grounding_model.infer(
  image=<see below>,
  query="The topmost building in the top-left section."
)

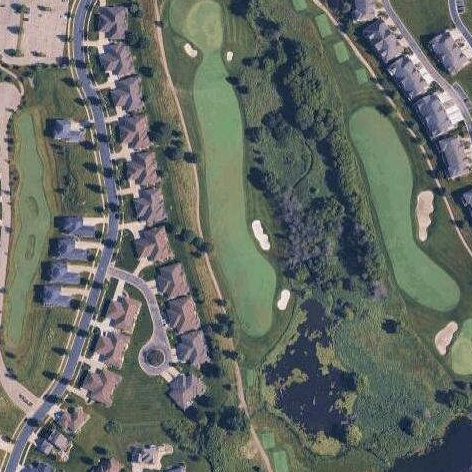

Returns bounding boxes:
[98,6,129,39]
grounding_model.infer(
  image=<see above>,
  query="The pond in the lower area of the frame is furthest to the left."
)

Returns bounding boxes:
[263,299,358,442]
